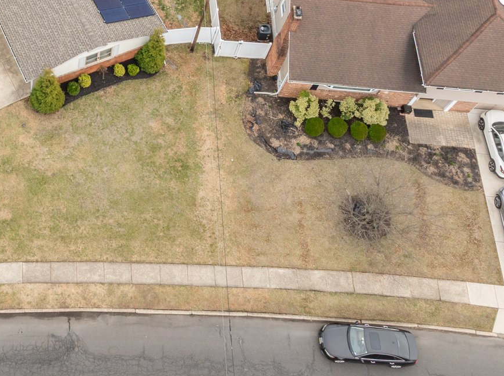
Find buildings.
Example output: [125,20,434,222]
[0,0,169,94]
[248,0,504,114]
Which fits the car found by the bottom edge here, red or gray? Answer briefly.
gray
